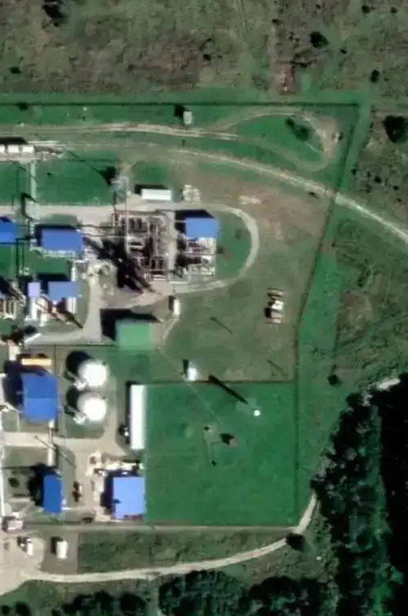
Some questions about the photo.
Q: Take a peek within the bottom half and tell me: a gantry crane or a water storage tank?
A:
water storage tank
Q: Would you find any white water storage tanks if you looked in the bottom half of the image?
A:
Yes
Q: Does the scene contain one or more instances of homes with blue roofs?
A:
Yes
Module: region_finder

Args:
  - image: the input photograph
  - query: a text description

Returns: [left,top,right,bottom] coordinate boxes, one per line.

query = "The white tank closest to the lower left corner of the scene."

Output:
[66,390,107,424]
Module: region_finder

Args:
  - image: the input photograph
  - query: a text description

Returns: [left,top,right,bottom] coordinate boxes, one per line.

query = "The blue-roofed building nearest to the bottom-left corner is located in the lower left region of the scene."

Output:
[38,470,63,513]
